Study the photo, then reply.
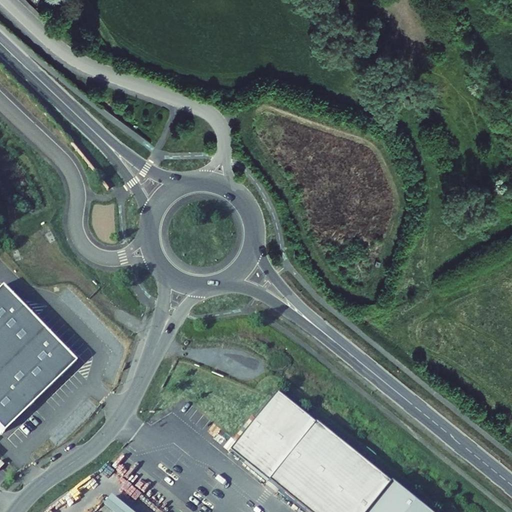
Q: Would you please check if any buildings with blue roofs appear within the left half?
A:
No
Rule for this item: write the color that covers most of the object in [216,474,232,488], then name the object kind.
white vehicle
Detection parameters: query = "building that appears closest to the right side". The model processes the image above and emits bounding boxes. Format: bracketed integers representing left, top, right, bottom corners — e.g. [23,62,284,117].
[232,390,435,512]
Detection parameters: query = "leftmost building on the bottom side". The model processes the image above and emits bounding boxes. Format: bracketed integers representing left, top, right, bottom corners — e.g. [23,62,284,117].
[0,283,79,436]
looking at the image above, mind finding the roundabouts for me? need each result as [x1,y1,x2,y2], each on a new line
[134,165,268,314]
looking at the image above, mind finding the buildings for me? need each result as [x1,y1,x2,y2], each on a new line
[100,492,135,512]
[232,390,435,512]
[0,283,79,436]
